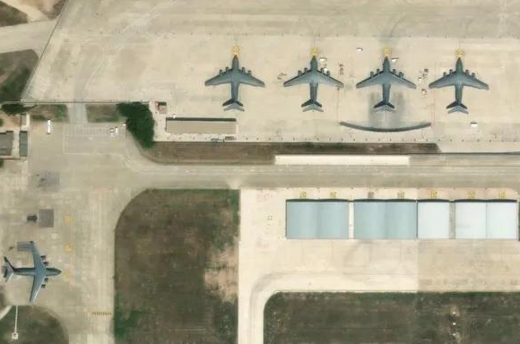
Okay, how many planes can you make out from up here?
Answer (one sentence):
Altogether the scene contains 5 planes.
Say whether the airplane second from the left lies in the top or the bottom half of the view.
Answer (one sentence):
Seen from above, the airplane second from the left lies in the top half of the view.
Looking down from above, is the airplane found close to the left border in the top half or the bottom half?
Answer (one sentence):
Seen from above, the airplane found close to the left border lies in the bottom half of the view.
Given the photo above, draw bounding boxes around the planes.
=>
[284,56,343,112]
[429,57,489,113]
[205,55,264,111]
[356,56,416,112]
[6,242,62,301]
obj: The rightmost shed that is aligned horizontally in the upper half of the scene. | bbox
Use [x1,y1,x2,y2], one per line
[166,121,236,133]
